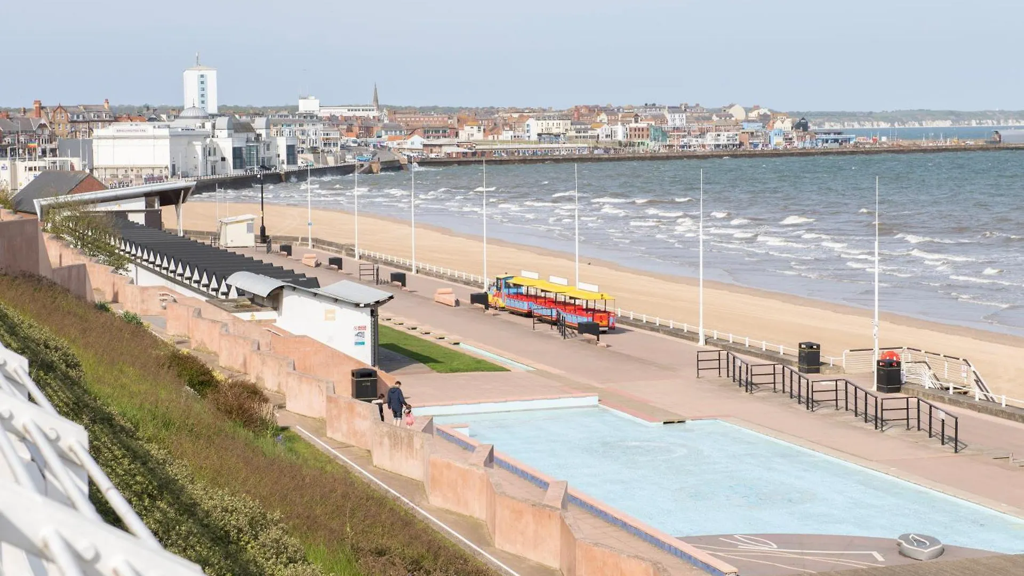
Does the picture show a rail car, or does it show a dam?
rail car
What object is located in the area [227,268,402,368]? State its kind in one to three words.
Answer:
building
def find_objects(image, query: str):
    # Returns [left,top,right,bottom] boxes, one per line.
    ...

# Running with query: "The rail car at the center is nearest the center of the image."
[502,272,553,319]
